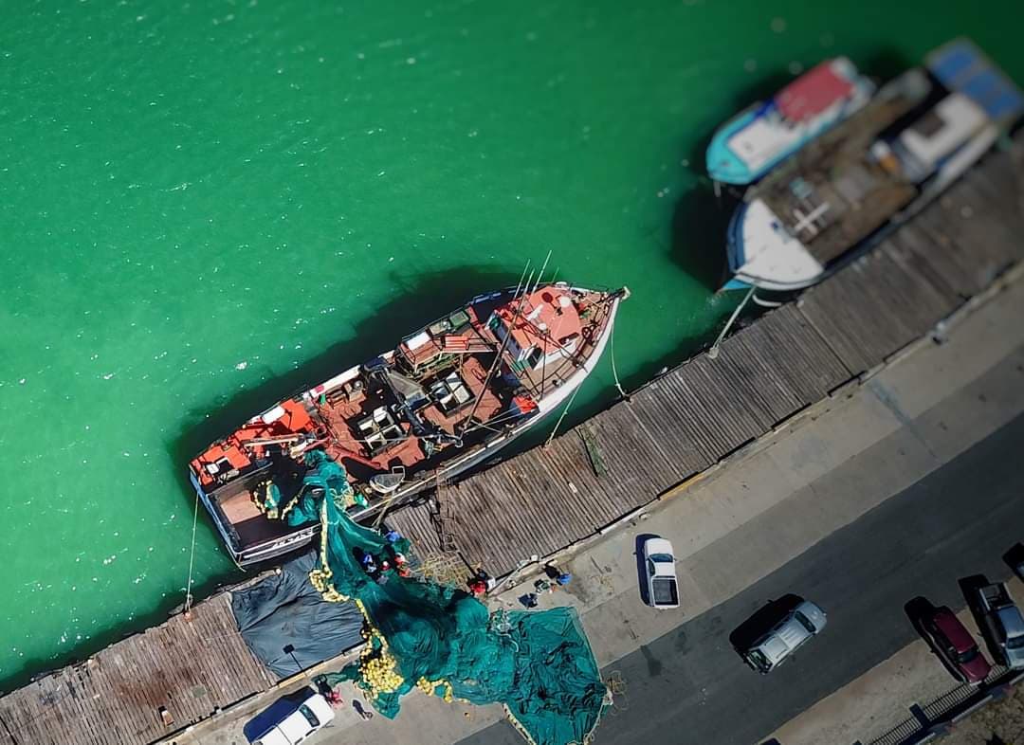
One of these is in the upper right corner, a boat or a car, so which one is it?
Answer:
boat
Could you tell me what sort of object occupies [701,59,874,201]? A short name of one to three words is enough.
boat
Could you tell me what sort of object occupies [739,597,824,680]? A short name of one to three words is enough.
car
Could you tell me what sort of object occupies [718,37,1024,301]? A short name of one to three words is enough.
boat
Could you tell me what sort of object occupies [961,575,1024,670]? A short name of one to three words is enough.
car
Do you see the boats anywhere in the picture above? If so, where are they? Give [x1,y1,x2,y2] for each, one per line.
[718,37,1024,301]
[191,251,631,574]
[701,59,874,201]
